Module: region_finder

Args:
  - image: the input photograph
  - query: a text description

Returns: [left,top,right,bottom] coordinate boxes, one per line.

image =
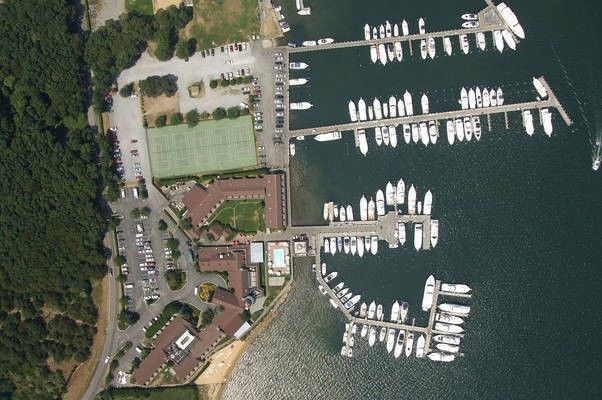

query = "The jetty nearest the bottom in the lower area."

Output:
[315,236,471,357]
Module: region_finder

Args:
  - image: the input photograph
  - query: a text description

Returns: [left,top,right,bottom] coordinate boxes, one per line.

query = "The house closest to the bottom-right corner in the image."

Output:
[293,238,316,257]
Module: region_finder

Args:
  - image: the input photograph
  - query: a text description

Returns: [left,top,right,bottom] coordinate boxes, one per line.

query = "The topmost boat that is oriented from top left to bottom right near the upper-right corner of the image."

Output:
[497,1,526,38]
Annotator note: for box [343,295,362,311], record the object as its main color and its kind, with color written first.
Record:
white boat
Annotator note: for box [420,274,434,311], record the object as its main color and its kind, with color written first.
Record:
white boat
